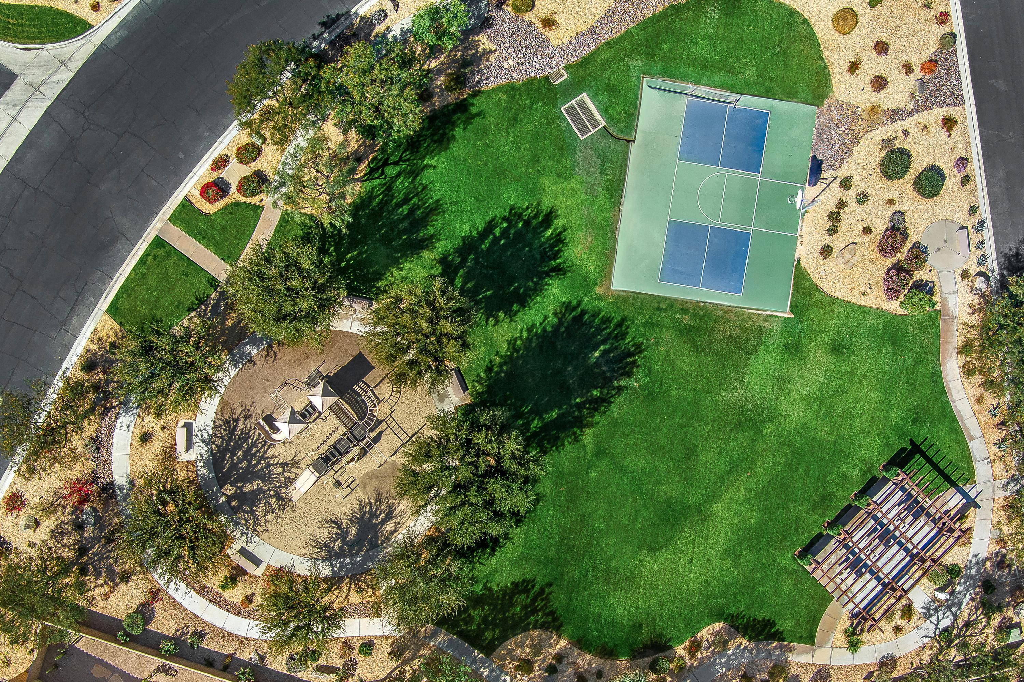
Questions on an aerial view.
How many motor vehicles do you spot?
zero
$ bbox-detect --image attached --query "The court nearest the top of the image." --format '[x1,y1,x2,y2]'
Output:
[613,77,817,314]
